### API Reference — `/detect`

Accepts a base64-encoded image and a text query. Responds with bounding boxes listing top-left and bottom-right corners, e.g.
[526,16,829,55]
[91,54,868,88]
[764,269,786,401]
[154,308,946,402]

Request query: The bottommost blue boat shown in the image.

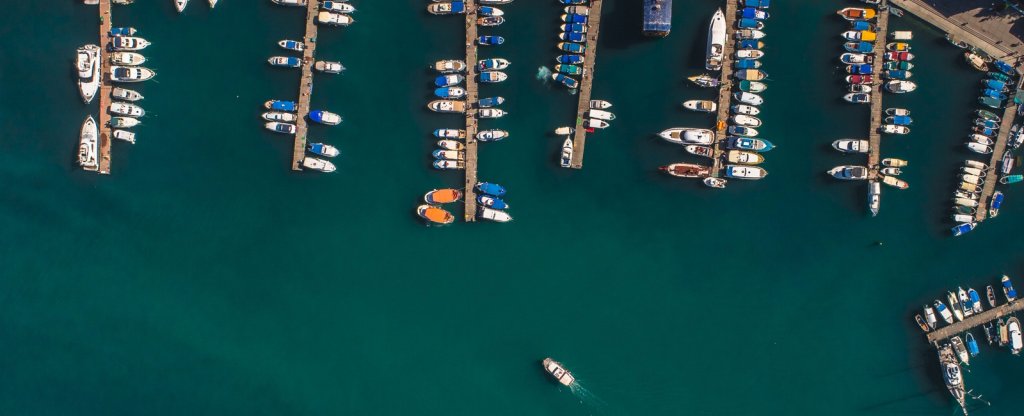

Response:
[966,332,981,358]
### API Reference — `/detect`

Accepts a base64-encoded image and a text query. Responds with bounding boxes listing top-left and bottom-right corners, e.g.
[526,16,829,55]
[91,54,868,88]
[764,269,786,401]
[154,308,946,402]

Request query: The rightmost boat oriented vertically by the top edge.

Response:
[705,7,726,76]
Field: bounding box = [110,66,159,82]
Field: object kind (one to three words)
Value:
boat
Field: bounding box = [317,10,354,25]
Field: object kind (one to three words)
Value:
boat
